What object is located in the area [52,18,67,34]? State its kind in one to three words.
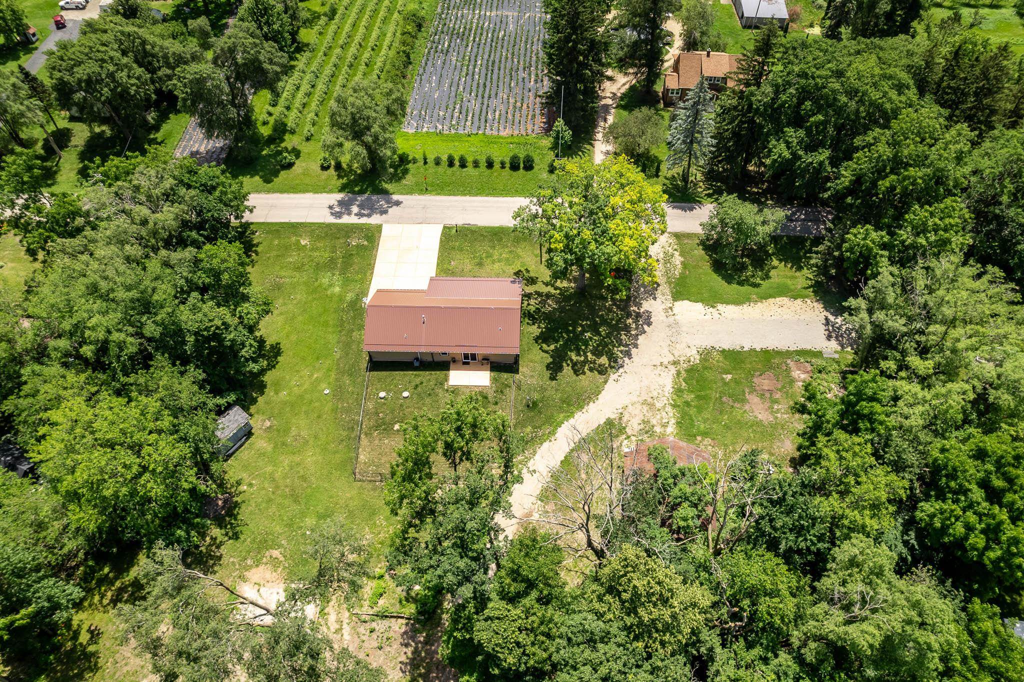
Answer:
car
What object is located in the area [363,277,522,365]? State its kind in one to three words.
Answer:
house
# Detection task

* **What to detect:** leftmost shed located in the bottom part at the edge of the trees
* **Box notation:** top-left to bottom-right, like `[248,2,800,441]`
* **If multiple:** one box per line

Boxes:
[206,401,255,447]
